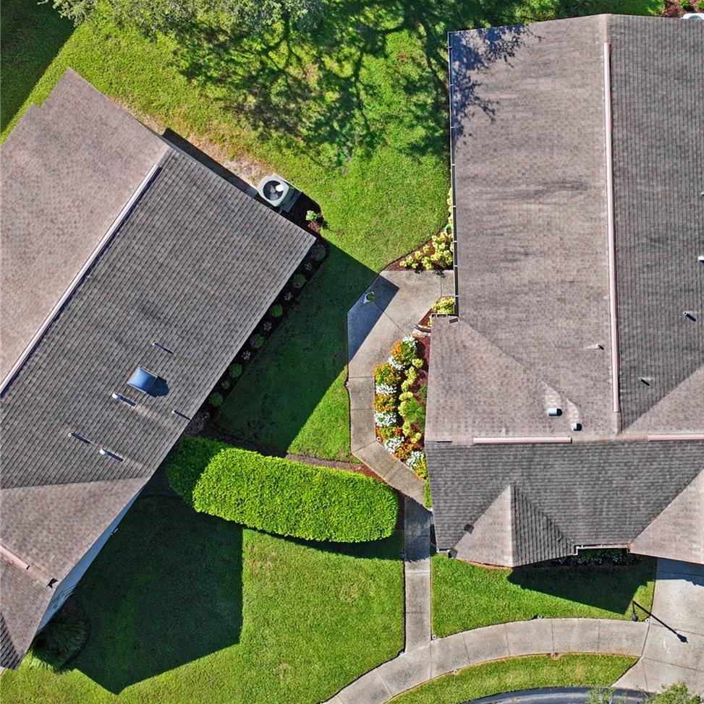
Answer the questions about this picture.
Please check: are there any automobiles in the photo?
No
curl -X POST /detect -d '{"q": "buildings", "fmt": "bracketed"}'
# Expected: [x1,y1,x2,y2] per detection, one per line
[427,12,704,567]
[0,67,316,675]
